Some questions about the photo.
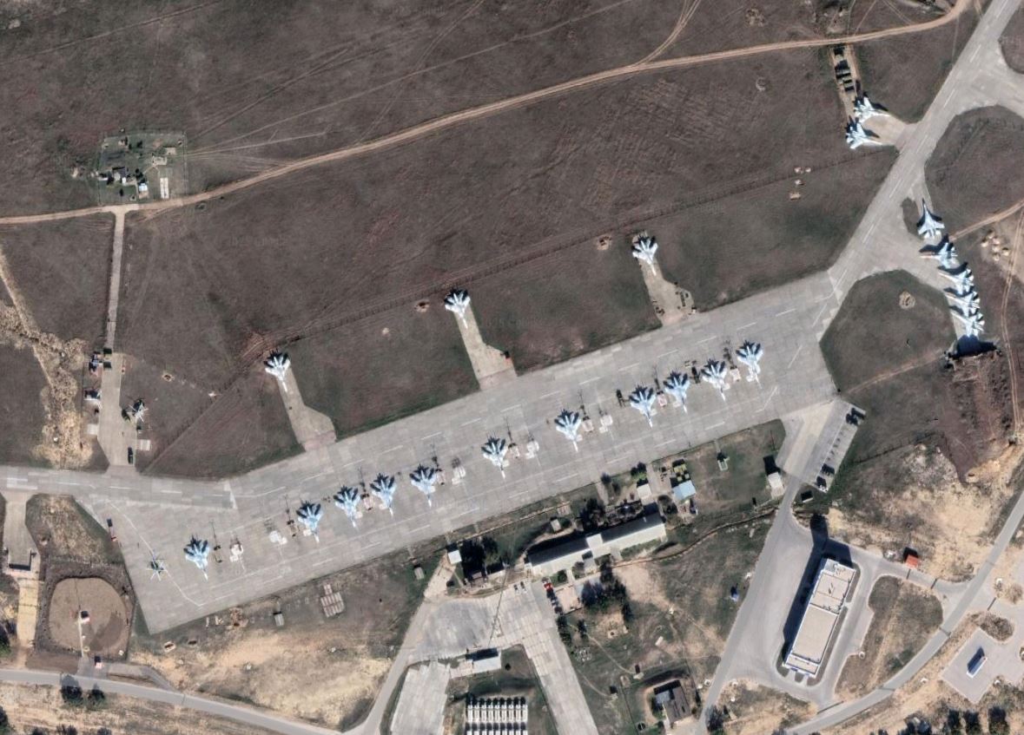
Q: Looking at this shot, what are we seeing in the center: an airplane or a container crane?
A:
airplane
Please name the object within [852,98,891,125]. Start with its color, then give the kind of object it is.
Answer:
white airplane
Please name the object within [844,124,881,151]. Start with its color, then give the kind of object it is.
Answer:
white airplane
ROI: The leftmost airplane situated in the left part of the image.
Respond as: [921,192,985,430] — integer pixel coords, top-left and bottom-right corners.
[185,542,210,579]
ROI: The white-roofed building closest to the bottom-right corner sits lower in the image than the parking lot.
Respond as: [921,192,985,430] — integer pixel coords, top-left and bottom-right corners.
[781,556,856,681]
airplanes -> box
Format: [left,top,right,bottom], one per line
[335,489,361,526]
[920,242,958,269]
[739,347,765,384]
[630,389,656,427]
[266,354,292,391]
[703,362,729,400]
[371,477,397,514]
[410,468,437,505]
[185,542,210,579]
[940,268,977,294]
[844,124,881,151]
[919,204,945,241]
[665,374,691,411]
[556,413,582,451]
[633,237,658,276]
[483,440,510,479]
[945,291,983,317]
[298,505,324,542]
[445,290,471,328]
[952,313,988,338]
[852,98,891,125]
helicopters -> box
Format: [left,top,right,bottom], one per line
[145,561,162,579]
[129,402,147,421]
